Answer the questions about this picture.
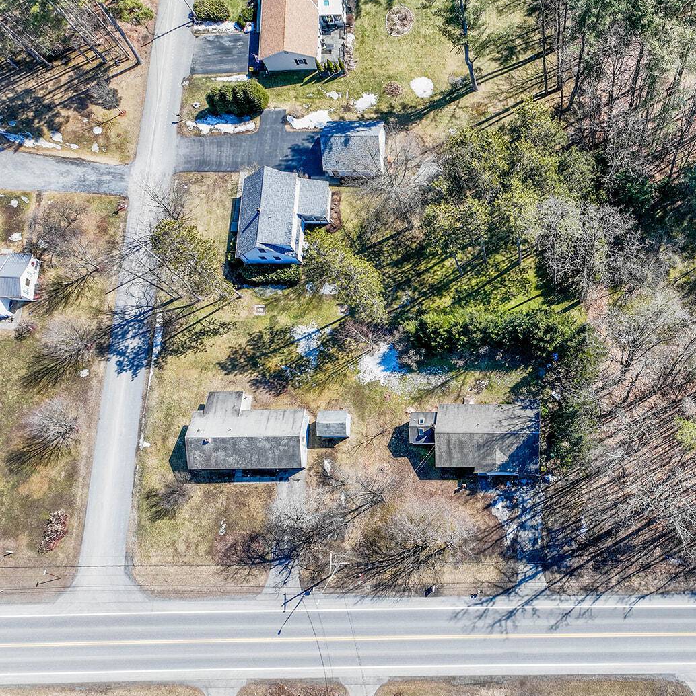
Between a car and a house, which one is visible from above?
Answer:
house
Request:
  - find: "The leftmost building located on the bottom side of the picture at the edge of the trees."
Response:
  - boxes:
[184,392,310,471]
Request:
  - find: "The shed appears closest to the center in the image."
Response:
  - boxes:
[314,410,350,438]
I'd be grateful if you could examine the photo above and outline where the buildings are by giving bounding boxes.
[237,164,336,265]
[408,405,539,475]
[314,410,350,438]
[320,121,385,178]
[184,392,310,471]
[0,252,39,310]
[259,0,346,69]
